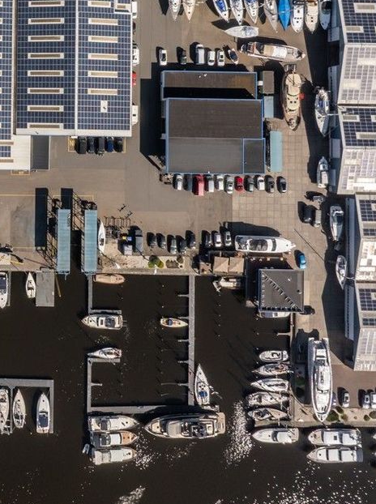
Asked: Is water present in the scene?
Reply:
Yes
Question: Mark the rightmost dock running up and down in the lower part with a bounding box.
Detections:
[177,275,195,405]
